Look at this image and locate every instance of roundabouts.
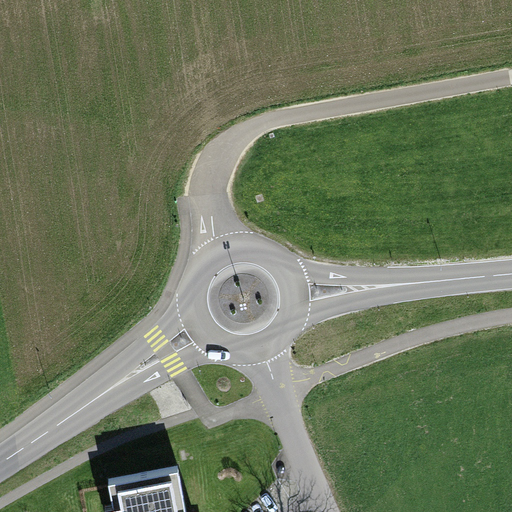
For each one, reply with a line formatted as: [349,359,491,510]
[118,196,385,404]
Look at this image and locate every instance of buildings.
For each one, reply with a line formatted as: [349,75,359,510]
[102,465,192,512]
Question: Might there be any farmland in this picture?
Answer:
Yes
